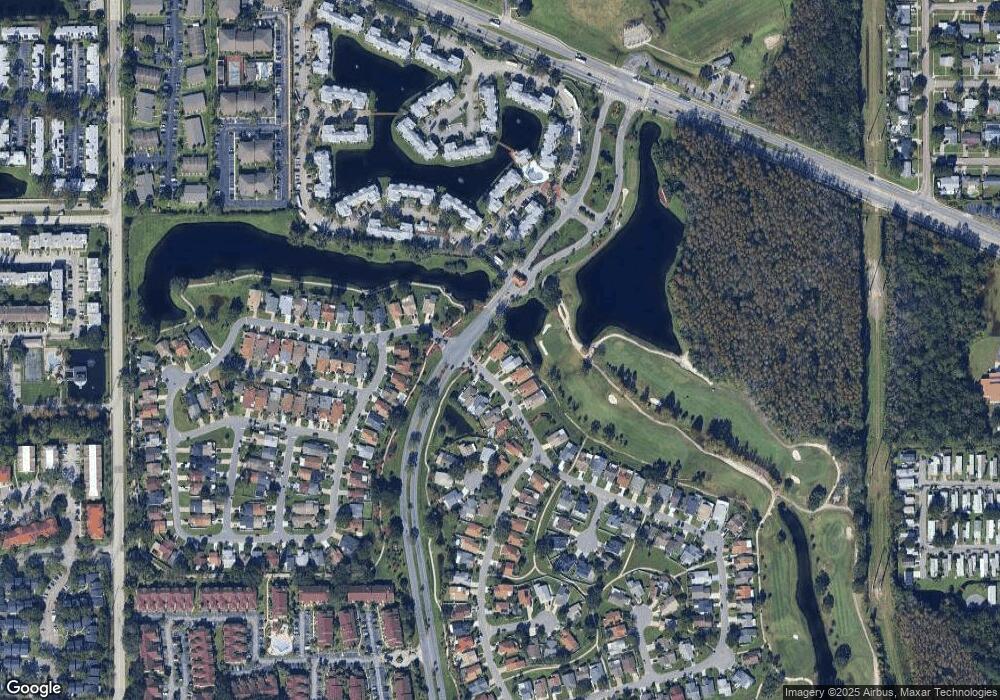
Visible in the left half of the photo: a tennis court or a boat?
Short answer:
tennis court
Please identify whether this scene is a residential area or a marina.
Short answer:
residential area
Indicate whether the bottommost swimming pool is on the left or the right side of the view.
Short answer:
left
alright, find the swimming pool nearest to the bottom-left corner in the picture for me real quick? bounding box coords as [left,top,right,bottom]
[269,635,294,654]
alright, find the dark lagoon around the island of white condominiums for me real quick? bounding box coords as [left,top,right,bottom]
[334,37,541,205]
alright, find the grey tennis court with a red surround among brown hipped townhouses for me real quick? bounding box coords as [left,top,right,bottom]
[226,59,243,87]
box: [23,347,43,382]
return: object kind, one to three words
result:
tennis court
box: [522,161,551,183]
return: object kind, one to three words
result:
swimming pool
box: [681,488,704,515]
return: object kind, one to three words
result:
house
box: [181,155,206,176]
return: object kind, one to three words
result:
building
